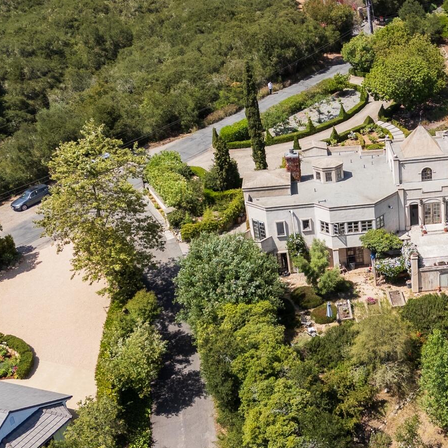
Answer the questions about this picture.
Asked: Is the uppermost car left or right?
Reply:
left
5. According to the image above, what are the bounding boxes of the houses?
[0,380,80,448]
[244,116,448,293]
